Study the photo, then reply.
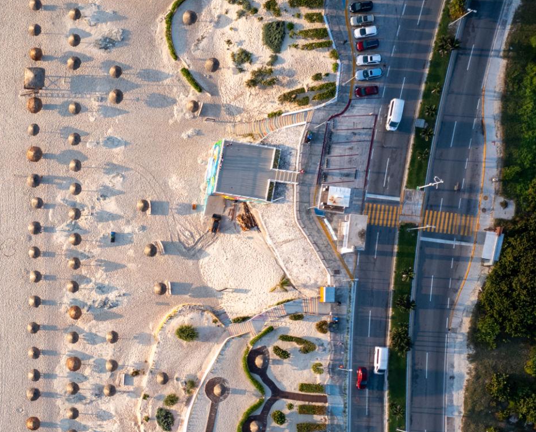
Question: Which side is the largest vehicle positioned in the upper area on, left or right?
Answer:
right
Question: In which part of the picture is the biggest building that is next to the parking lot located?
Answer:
center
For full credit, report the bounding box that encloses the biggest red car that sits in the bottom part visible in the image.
[355,367,369,390]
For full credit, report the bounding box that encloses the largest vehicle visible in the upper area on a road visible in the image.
[383,97,405,133]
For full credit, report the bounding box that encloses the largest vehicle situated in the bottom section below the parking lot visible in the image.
[371,346,387,374]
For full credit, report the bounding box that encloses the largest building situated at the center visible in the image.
[206,139,298,203]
